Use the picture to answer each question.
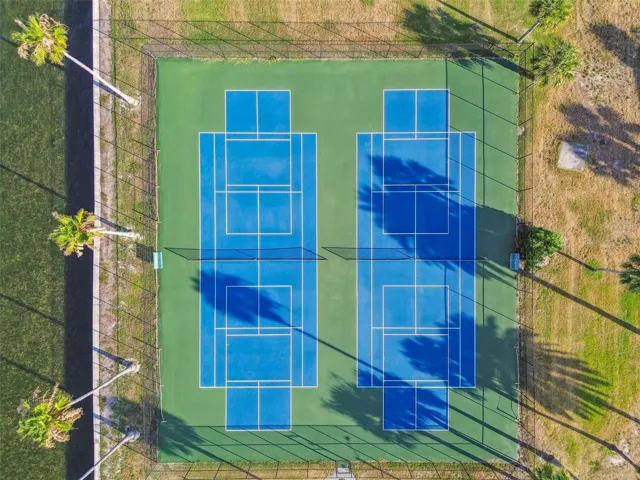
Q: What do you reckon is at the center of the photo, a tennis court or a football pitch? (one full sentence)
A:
The feature located at the center of the photo is a tennis court.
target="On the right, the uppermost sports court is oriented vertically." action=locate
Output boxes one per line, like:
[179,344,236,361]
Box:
[383,89,449,234]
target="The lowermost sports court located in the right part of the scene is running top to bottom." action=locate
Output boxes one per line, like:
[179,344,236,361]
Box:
[383,286,449,431]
